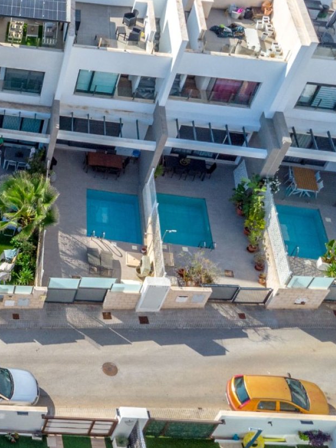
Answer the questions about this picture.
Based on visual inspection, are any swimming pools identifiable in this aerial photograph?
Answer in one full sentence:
Yes, you can see a swimming pool in this photo.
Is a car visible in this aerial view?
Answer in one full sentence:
Yes, the photo shows a car.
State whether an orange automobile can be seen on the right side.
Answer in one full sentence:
Yes, you'll find an orange automobile on the right side.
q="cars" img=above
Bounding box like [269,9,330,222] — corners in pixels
[223,371,332,412]
[0,368,40,407]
